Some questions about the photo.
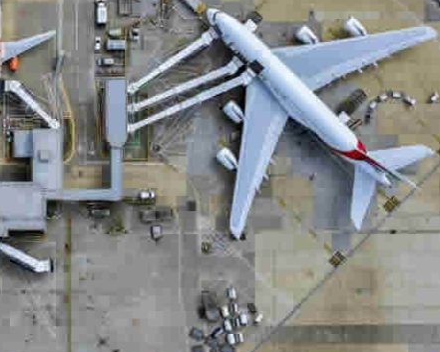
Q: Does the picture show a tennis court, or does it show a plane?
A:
plane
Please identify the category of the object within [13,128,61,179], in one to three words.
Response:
building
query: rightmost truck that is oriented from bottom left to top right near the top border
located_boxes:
[243,9,265,31]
